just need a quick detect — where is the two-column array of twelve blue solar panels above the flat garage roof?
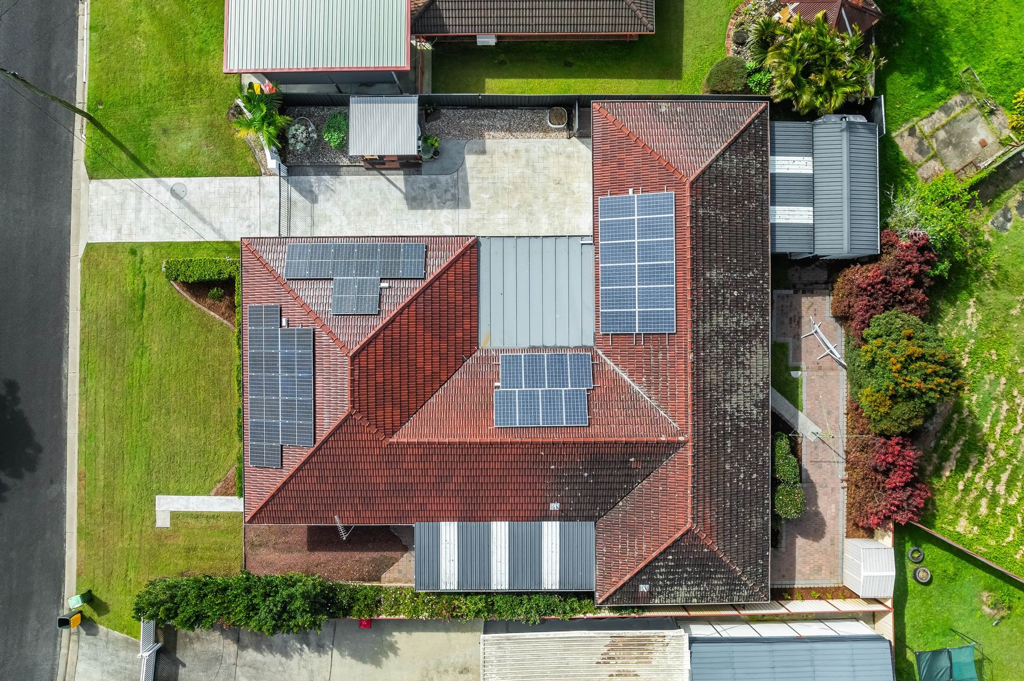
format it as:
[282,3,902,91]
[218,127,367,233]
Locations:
[599,185,676,344]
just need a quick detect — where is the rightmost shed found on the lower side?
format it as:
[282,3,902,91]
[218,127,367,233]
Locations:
[842,536,898,599]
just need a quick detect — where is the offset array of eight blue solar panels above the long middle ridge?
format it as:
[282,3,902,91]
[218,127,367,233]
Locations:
[490,352,601,426]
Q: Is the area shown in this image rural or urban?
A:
urban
